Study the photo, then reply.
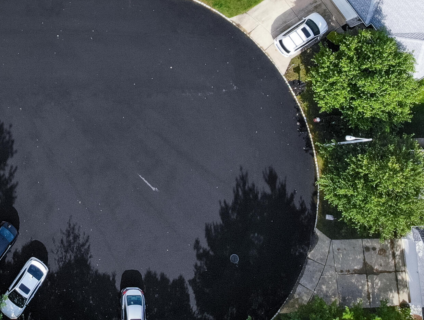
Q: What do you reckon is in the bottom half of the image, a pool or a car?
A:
car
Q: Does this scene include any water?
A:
No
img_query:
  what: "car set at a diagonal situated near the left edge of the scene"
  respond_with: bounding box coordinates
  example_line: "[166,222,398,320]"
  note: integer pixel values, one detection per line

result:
[0,255,51,320]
